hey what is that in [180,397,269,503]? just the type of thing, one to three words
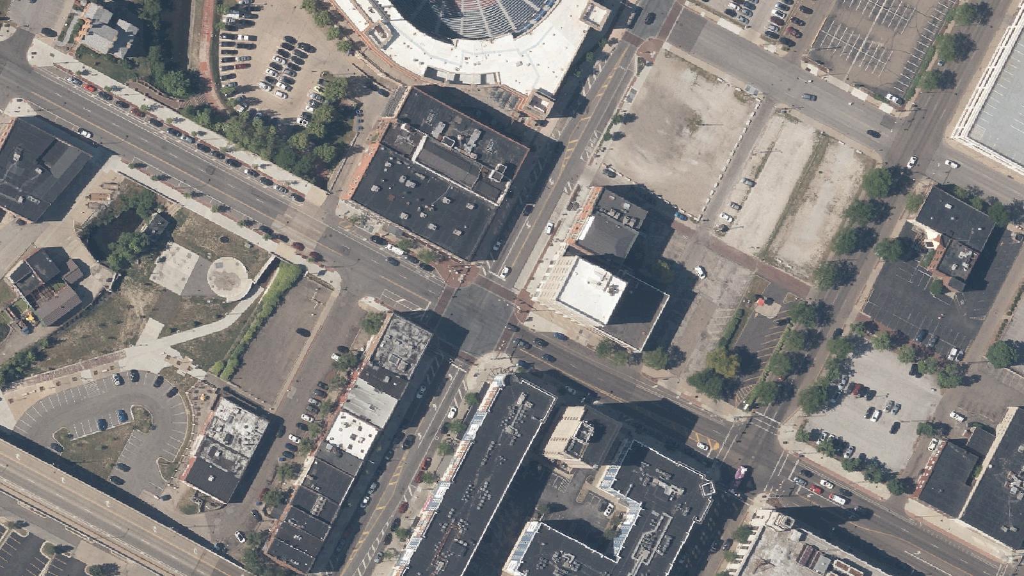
building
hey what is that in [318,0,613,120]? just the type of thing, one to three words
stadium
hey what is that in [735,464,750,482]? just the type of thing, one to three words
vehicle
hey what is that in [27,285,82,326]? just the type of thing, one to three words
barn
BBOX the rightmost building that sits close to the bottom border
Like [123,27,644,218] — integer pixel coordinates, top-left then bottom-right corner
[951,407,1024,558]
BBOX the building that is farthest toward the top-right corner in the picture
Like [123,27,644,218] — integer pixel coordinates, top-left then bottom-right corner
[950,4,1024,179]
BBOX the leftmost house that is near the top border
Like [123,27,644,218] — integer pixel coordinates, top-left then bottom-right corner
[72,2,139,58]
